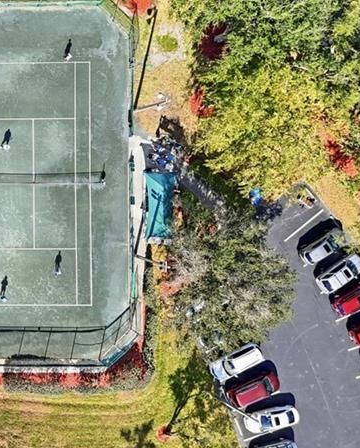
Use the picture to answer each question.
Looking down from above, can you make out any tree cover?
Yes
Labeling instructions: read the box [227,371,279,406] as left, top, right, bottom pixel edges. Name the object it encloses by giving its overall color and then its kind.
red car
